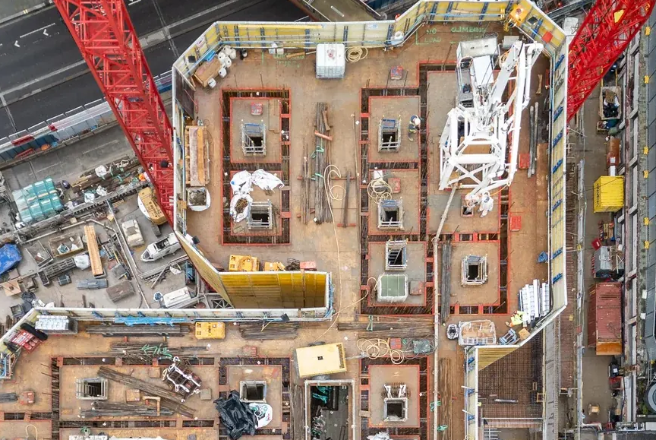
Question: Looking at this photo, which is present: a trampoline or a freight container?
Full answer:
There is a freight container in the scene.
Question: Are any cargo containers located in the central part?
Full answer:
No, the scene shows no cargo container in the central part.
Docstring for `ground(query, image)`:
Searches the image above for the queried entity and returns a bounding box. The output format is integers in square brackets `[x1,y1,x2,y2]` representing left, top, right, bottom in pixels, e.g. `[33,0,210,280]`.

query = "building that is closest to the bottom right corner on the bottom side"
[588,247,632,283]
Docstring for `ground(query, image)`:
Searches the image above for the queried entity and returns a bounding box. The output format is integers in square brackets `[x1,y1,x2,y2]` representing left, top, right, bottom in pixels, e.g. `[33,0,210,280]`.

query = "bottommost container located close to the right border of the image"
[586,279,624,351]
